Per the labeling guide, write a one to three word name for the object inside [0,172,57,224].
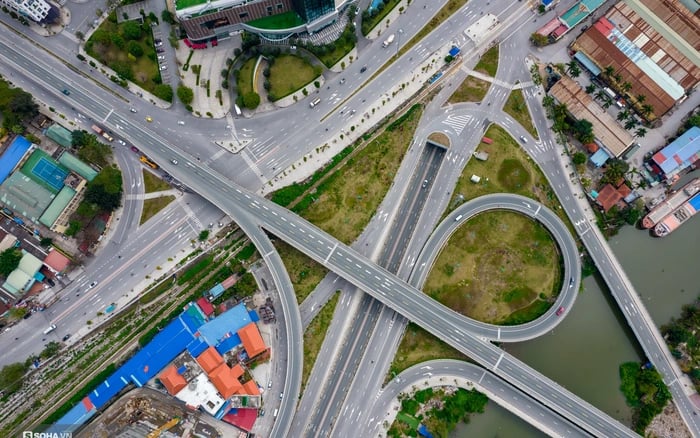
building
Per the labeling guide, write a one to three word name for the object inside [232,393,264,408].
house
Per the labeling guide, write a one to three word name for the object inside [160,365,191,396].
house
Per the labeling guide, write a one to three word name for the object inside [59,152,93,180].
shed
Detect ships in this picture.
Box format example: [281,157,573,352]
[643,179,700,228]
[654,192,700,237]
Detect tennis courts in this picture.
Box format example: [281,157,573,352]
[20,149,70,195]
